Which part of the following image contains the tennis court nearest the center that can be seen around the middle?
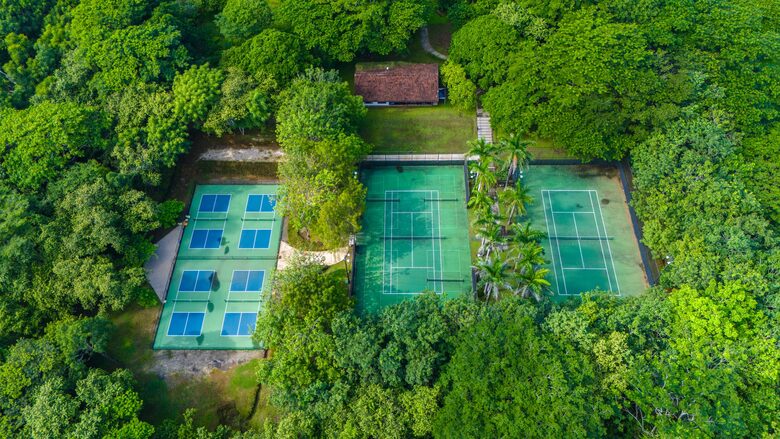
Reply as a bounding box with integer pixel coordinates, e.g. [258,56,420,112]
[352,165,476,319]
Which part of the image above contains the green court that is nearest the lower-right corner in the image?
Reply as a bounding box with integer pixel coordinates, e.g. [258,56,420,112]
[521,162,658,309]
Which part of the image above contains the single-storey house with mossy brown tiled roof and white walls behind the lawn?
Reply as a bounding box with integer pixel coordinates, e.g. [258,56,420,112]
[354,63,448,107]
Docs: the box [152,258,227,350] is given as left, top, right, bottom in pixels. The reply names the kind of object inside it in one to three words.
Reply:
sports court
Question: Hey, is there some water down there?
No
